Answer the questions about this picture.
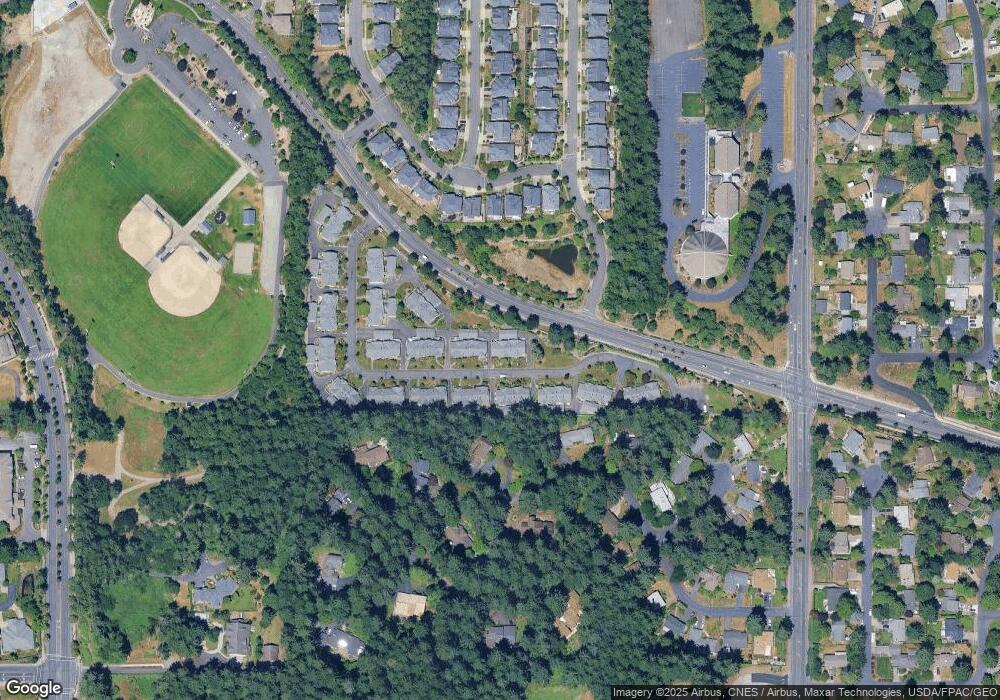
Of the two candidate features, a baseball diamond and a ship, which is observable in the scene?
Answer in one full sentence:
Of the two, only a baseball diamond appears.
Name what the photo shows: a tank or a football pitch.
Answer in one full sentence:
The one in the frame is a football pitch.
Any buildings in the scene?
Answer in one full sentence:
Yes, a building appears in the view.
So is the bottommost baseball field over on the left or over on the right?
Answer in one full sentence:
It is on the left.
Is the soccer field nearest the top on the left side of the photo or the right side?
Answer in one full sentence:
It is on the left.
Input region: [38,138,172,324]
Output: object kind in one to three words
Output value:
baseball field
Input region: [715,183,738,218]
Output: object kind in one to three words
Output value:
building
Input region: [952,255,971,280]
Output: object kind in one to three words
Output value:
house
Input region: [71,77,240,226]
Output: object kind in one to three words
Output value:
soccer field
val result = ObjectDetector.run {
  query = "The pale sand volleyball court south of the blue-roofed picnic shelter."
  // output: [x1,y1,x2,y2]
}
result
[233,243,254,273]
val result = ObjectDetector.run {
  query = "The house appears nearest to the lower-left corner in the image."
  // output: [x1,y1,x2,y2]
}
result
[3,618,34,652]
